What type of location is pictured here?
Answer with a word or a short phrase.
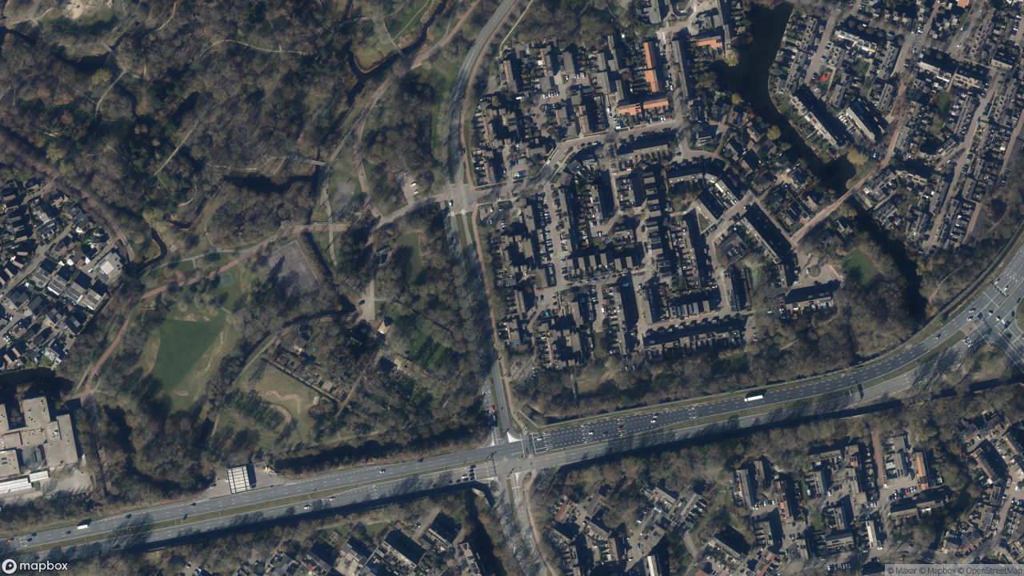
residential area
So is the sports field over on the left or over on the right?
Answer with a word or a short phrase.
left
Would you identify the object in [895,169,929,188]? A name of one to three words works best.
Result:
building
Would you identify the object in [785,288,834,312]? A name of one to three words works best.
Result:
house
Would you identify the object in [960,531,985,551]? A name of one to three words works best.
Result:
house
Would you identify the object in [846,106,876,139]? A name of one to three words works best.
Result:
building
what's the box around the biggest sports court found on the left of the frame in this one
[263,240,318,302]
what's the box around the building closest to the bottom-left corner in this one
[0,396,78,493]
